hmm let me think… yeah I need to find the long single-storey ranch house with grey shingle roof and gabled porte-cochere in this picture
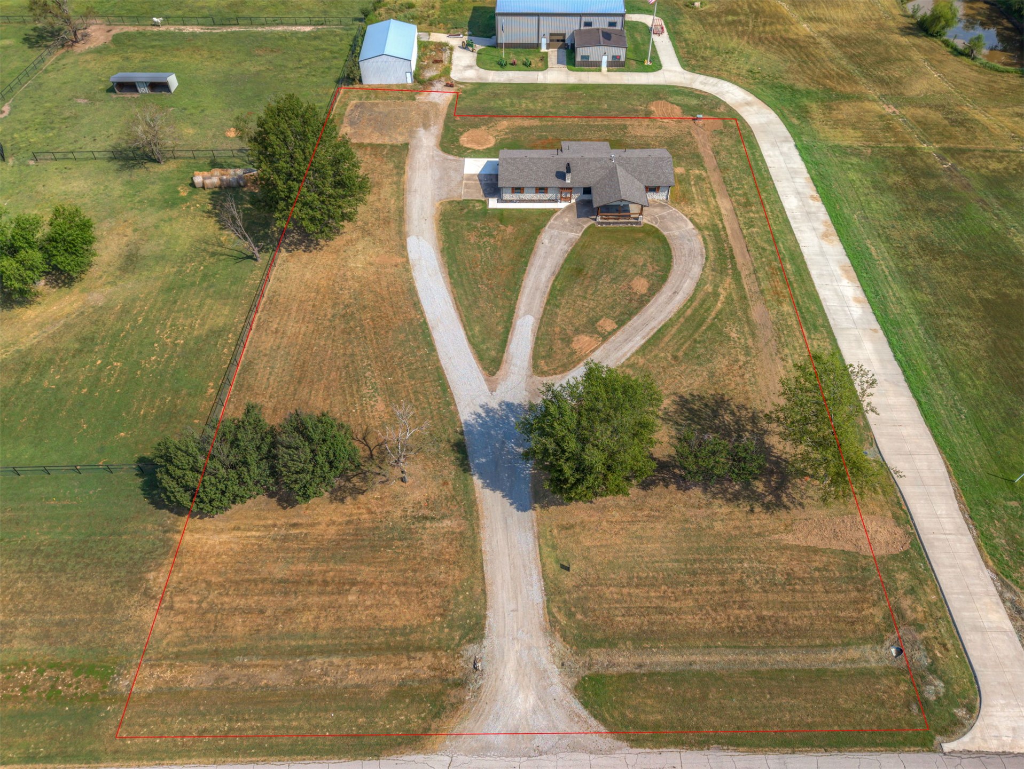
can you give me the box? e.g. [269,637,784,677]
[498,140,674,218]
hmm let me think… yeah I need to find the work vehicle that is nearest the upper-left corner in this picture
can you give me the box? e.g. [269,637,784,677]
[463,34,480,51]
